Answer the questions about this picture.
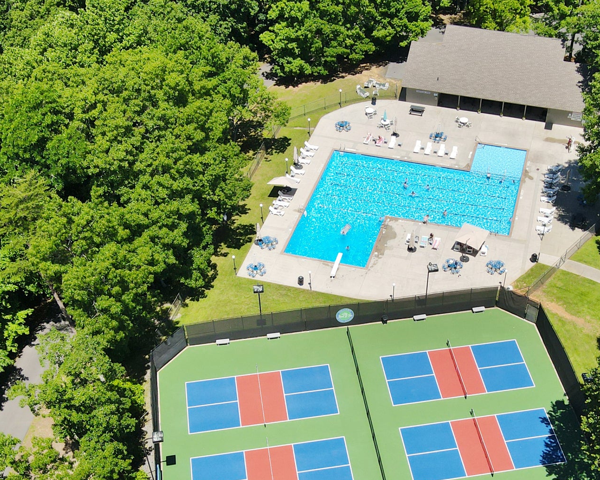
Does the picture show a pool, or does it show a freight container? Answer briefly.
pool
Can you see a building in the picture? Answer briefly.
Yes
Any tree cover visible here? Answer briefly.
Yes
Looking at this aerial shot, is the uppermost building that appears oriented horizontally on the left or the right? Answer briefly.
right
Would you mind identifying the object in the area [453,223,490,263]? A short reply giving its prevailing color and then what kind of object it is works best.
white umbrella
